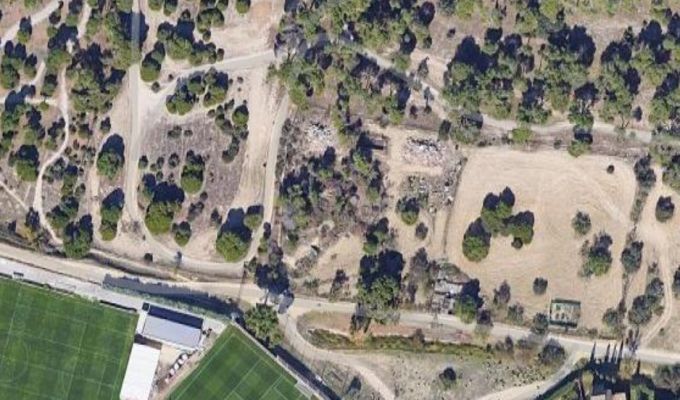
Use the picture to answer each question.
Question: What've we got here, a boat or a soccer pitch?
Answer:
soccer pitch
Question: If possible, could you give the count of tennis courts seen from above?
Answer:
0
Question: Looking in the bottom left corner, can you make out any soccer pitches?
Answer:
Yes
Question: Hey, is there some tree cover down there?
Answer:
Yes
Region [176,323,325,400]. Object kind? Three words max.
soccer field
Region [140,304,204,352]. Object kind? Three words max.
building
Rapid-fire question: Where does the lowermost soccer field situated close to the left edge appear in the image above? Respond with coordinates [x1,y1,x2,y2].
[0,281,137,400]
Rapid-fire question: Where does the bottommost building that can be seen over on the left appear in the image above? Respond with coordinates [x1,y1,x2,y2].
[119,344,159,400]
